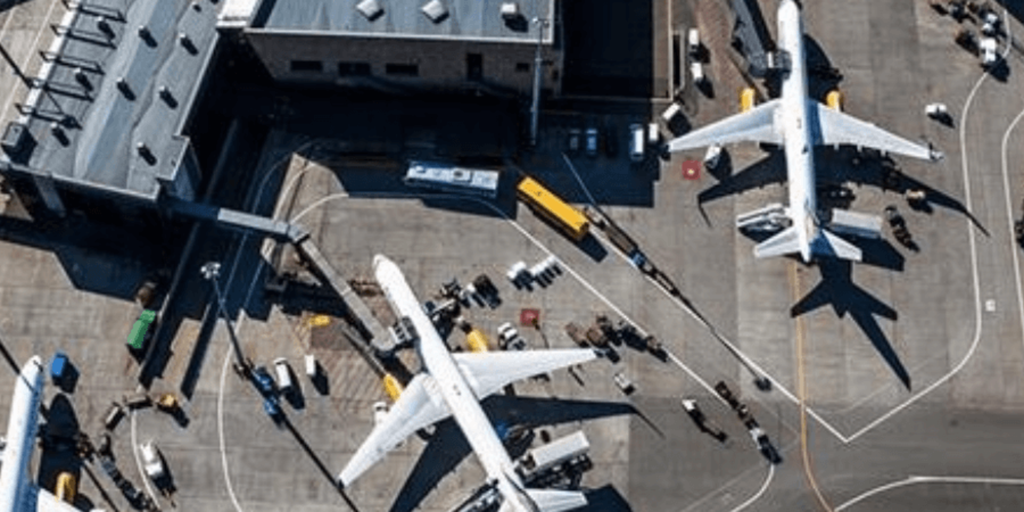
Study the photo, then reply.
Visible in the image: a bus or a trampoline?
bus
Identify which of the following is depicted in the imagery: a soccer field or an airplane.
airplane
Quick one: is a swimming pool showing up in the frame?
No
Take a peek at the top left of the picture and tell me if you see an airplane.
No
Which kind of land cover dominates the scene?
paved ground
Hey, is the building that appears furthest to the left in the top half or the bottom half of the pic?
top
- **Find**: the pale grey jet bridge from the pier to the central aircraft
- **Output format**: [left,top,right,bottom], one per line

[165,200,418,369]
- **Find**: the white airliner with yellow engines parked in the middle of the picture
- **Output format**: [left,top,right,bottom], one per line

[336,254,610,512]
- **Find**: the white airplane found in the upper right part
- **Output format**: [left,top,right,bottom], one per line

[665,0,946,265]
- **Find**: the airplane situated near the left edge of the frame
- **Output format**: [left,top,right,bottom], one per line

[0,357,77,512]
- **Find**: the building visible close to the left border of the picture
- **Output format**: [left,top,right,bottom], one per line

[0,0,233,239]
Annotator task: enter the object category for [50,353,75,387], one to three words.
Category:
truck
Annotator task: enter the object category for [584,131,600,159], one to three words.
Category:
car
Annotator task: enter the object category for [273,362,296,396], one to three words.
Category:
vehicle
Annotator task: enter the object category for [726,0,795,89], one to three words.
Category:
jet bridge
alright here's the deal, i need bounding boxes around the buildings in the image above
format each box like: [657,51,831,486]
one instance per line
[245,0,557,98]
[0,0,233,239]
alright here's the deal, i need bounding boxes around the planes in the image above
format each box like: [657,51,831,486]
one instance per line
[0,357,77,512]
[336,254,610,512]
[665,0,946,265]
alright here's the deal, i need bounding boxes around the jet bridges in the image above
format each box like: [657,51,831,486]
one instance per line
[726,0,795,89]
[165,200,418,369]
